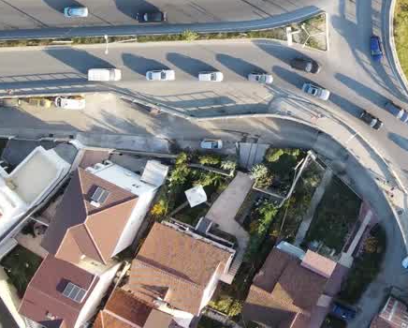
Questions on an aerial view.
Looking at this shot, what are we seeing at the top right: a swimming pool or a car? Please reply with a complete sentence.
You can see a car at the top right.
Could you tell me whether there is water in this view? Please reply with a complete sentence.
No, the scene doesn't show any water.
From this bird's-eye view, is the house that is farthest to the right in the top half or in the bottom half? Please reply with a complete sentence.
You can find the house that is farthest to the right in the bottom half.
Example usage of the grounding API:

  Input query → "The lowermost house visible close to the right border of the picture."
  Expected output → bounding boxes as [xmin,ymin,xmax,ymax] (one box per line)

[371,292,408,328]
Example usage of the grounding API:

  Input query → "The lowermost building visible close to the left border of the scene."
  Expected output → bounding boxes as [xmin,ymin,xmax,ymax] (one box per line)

[19,255,131,328]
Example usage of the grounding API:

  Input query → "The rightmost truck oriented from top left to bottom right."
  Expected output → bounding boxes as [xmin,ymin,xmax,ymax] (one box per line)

[383,101,408,123]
